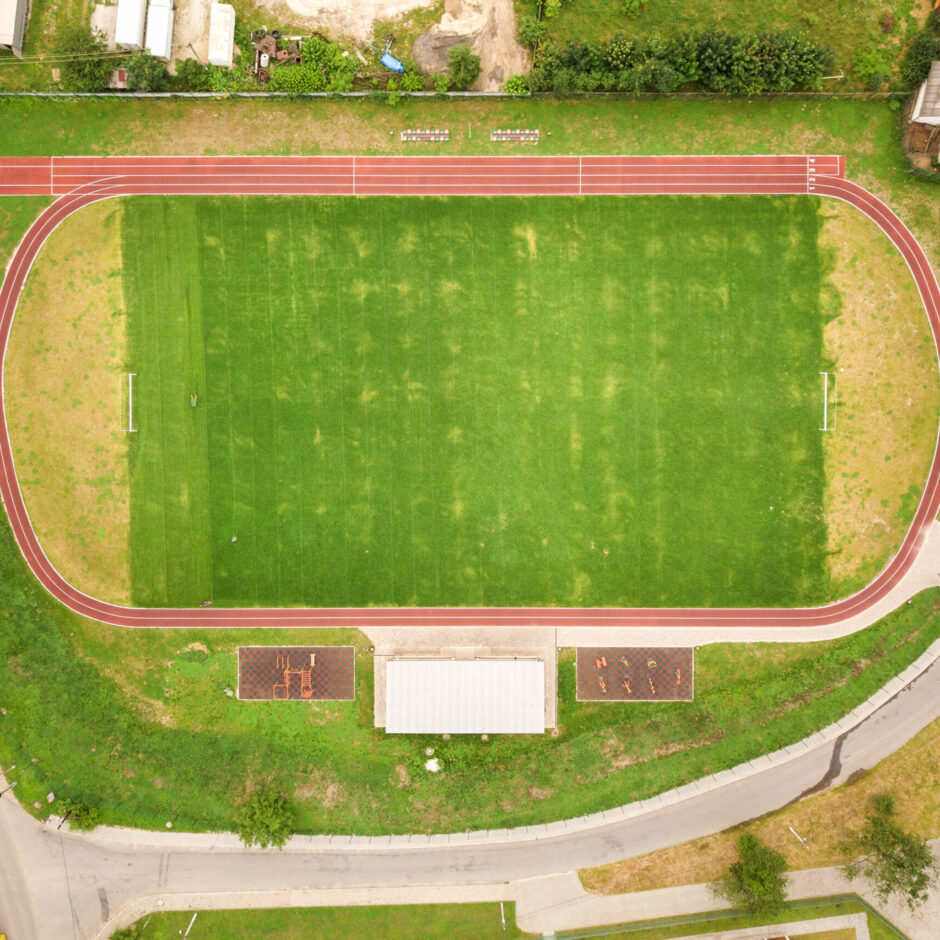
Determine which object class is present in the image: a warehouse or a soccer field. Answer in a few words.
soccer field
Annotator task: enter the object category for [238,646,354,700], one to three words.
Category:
playground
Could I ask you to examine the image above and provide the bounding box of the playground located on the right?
[576,647,694,700]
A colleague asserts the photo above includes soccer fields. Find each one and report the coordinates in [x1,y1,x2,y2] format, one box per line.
[121,195,827,608]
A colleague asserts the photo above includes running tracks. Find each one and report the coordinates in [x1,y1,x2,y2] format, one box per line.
[0,155,940,628]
